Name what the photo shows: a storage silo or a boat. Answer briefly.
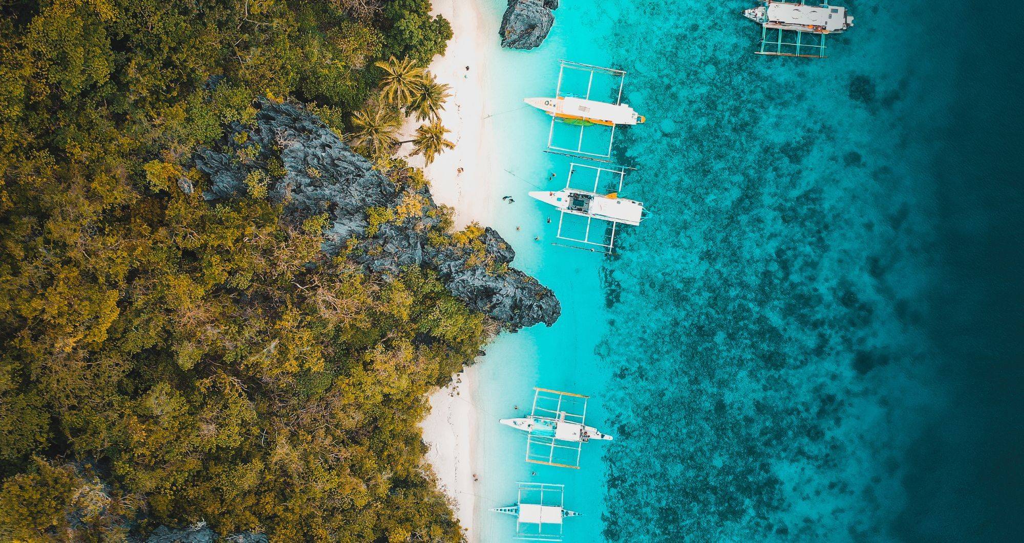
boat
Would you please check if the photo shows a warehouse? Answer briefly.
No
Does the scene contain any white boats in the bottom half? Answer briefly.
Yes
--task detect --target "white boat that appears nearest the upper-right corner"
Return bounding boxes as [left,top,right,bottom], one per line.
[735,0,854,58]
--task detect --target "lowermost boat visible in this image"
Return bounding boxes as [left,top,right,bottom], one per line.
[488,482,586,542]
